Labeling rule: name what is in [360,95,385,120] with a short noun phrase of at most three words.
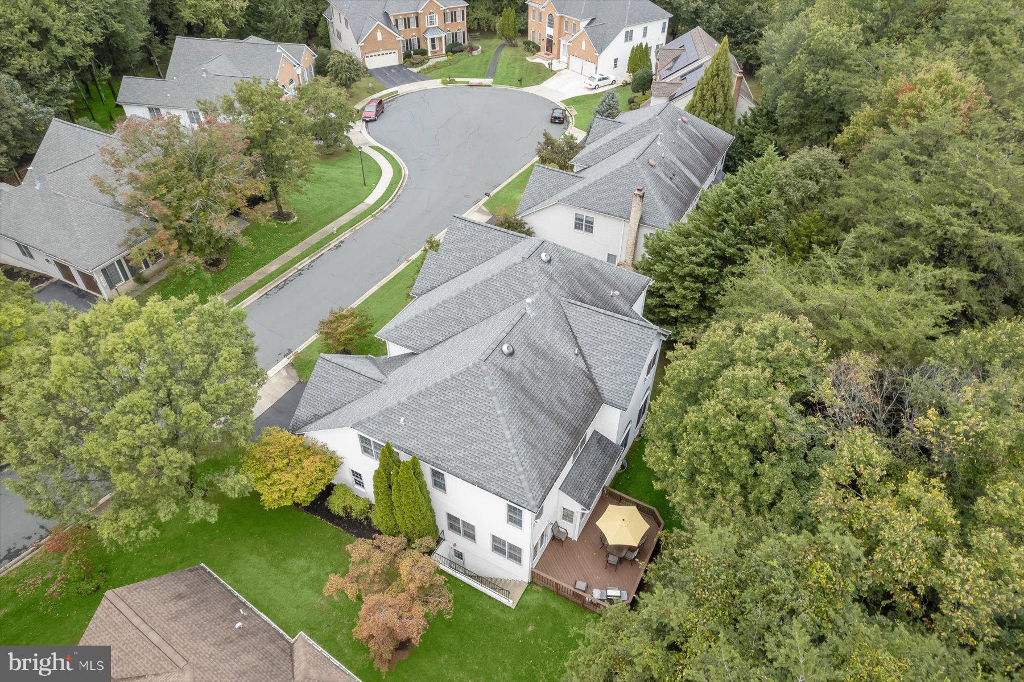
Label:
car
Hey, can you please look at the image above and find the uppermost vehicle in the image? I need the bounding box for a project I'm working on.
[584,72,618,88]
